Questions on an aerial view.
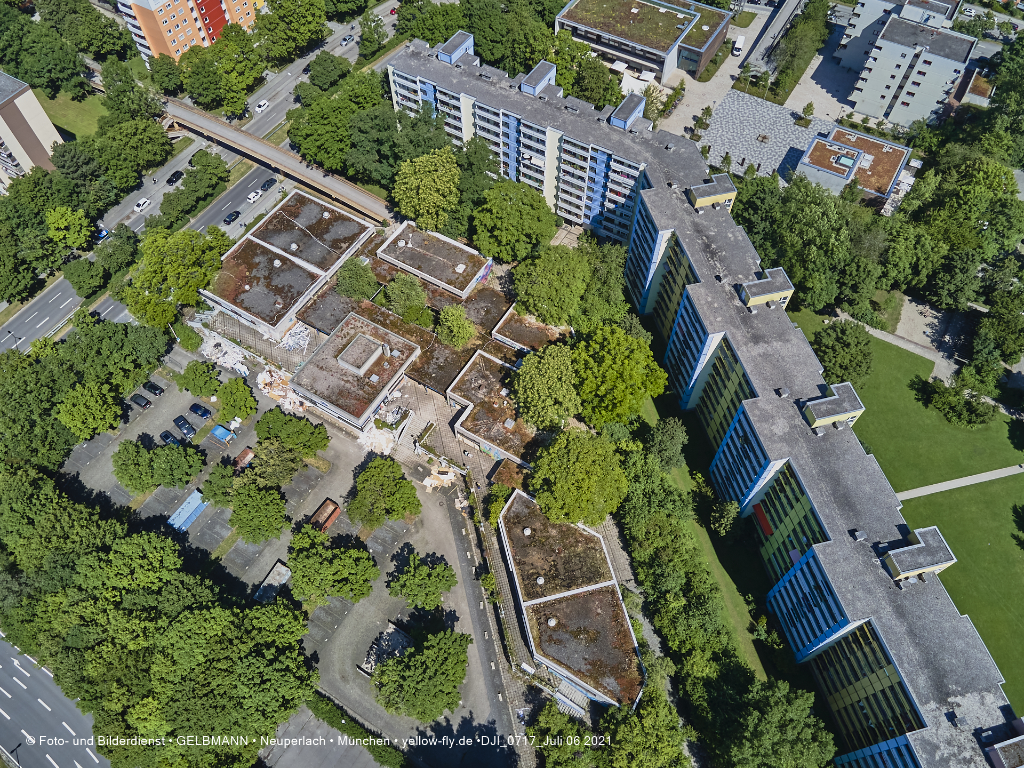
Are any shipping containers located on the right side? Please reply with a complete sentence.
No, there is no shipping container on the right side.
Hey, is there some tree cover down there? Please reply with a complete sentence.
Yes, there is tree cover in the image.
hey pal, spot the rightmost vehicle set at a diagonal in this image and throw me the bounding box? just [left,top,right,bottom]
[730,35,746,54]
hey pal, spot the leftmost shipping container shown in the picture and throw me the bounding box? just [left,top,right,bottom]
[168,490,215,536]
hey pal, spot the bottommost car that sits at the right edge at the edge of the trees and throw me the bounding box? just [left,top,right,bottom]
[972,52,990,64]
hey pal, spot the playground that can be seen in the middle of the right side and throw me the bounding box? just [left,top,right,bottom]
[896,295,982,352]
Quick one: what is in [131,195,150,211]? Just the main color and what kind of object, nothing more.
white car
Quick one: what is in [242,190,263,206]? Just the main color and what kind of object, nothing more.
white car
